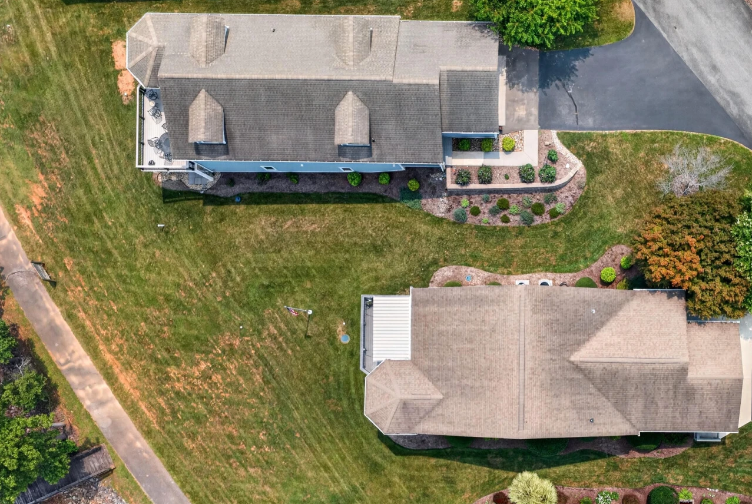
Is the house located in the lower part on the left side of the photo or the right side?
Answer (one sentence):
The house located in the lower part appears in the right half of the scene.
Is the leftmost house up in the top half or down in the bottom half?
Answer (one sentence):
The leftmost house sits in the top half of the picture.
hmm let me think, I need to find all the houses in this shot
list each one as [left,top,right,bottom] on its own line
[125,11,502,172]
[363,284,744,447]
